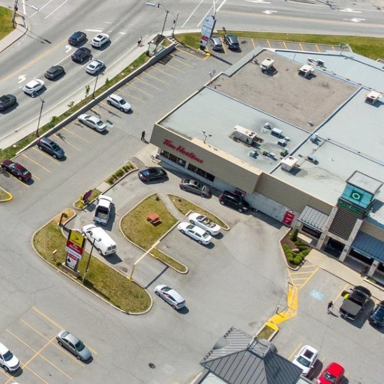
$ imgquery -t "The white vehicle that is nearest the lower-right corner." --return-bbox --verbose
[293,342,322,379]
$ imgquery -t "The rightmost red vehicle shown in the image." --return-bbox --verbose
[316,361,347,384]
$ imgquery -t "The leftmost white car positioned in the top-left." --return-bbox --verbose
[20,80,47,97]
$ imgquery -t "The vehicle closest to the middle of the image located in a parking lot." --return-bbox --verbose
[176,178,215,200]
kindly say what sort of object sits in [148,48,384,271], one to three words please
building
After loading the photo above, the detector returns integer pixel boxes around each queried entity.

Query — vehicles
[81,224,119,259]
[69,47,92,63]
[52,328,97,365]
[293,342,322,379]
[20,80,47,97]
[43,64,67,81]
[134,167,172,182]
[336,285,372,321]
[175,221,216,248]
[83,60,106,76]
[76,112,106,134]
[93,193,114,227]
[0,339,25,376]
[223,31,240,50]
[151,283,191,312]
[185,211,224,237]
[215,190,254,215]
[67,31,88,47]
[89,32,111,48]
[106,93,132,112]
[367,299,384,329]
[176,178,215,200]
[0,95,18,111]
[36,135,67,160]
[316,361,347,384]
[1,159,32,182]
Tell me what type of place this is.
parking lot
